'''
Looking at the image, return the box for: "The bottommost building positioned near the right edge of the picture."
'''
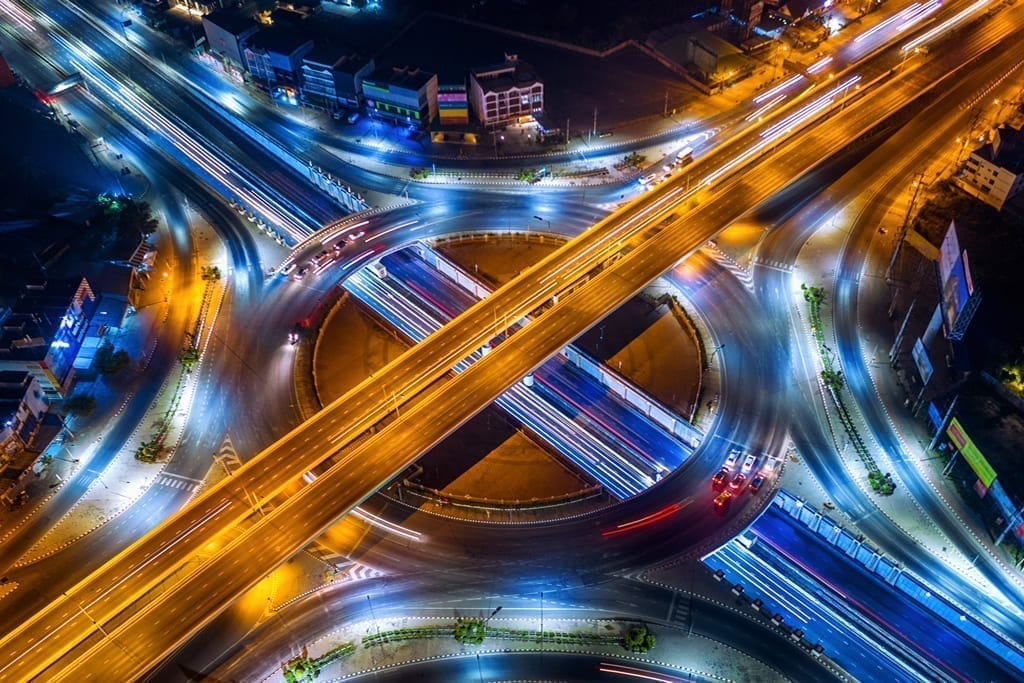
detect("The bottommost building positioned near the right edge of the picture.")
[955,131,1024,212]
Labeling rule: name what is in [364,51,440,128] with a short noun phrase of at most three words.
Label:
building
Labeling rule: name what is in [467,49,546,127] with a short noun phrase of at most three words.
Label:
building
